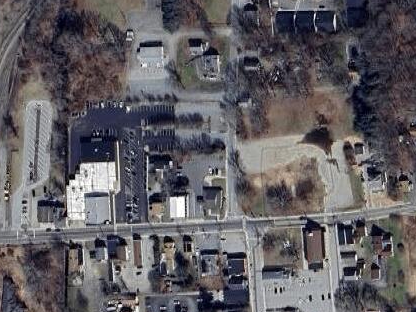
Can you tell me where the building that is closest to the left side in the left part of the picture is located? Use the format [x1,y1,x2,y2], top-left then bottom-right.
[38,201,64,223]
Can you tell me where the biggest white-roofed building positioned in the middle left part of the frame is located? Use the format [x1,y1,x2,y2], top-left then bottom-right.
[66,137,117,220]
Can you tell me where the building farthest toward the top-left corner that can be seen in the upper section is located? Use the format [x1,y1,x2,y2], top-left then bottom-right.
[138,45,164,67]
